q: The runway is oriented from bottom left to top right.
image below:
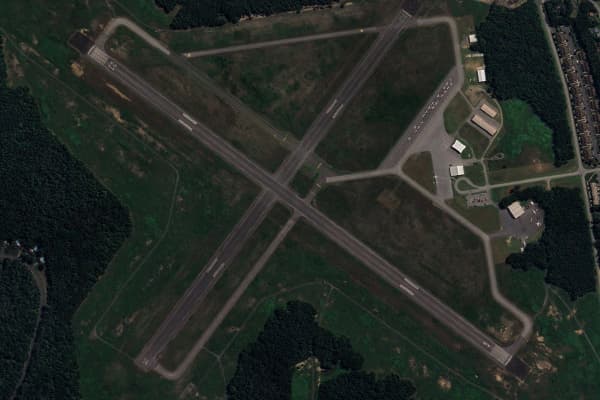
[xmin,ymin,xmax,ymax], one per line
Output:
[138,8,414,368]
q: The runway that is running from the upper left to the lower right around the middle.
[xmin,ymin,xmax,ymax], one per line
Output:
[87,43,513,367]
